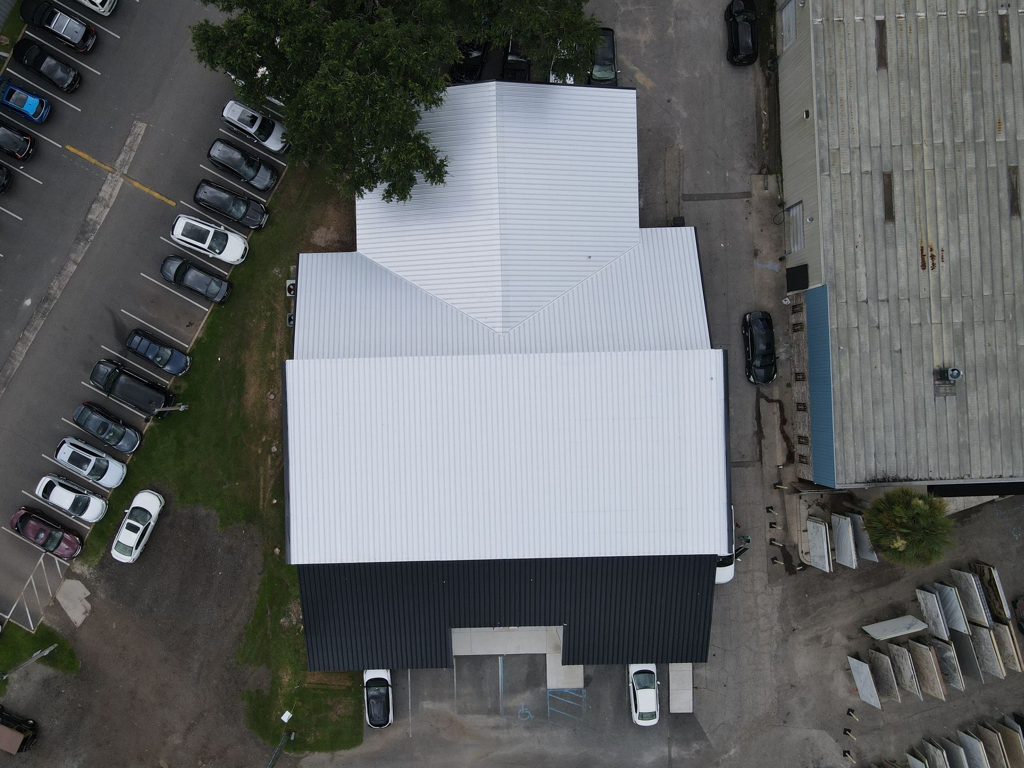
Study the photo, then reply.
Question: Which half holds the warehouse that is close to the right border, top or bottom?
top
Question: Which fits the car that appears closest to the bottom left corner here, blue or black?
black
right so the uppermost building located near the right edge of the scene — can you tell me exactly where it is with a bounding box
[772,0,1024,488]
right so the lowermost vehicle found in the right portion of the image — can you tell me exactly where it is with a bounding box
[629,664,661,731]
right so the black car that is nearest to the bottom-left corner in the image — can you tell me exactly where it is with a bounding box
[0,703,45,757]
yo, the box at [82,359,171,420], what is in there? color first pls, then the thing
black car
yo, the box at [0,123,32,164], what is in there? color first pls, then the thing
black car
